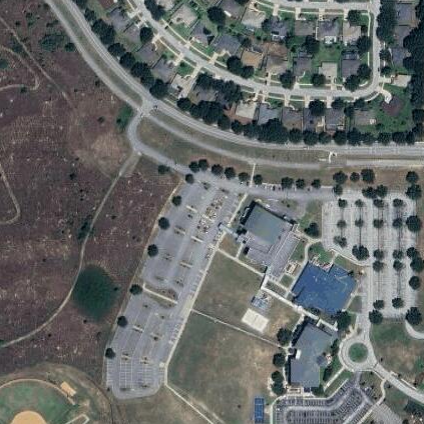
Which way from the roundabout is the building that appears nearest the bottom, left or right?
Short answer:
to its left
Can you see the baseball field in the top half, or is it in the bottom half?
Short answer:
bottom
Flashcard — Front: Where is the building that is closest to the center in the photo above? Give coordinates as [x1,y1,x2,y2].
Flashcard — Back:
[235,203,300,278]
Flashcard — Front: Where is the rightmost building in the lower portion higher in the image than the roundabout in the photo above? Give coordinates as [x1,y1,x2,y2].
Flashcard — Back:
[292,263,357,314]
